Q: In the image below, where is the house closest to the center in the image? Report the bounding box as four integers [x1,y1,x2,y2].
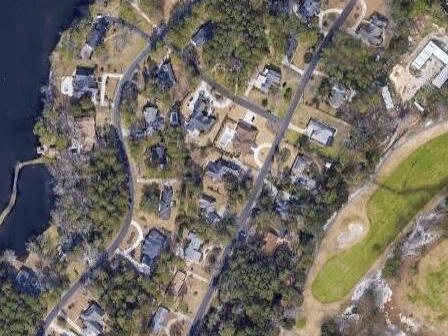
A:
[208,160,245,187]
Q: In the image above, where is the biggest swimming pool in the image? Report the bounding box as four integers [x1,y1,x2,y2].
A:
[217,126,237,150]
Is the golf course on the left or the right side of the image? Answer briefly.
right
